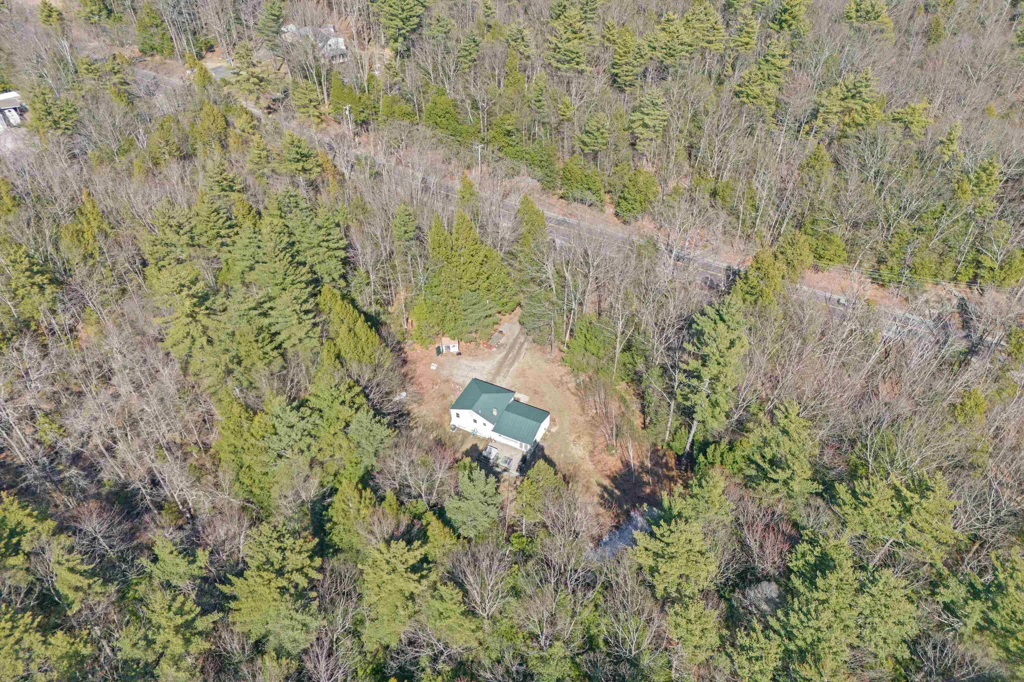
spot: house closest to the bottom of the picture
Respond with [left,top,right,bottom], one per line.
[450,376,550,455]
